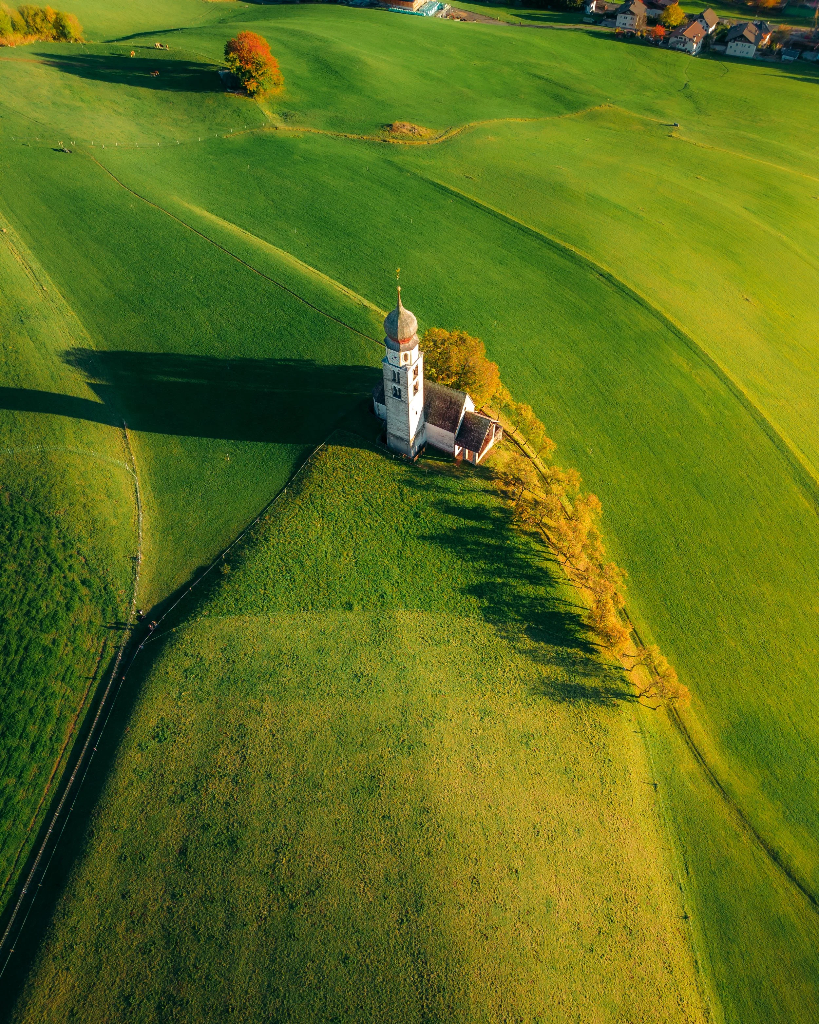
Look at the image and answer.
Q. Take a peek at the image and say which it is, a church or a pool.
church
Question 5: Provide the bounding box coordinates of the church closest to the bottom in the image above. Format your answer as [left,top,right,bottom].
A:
[367,268,504,464]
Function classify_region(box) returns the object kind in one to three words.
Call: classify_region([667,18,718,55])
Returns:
house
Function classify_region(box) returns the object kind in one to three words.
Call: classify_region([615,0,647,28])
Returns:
house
